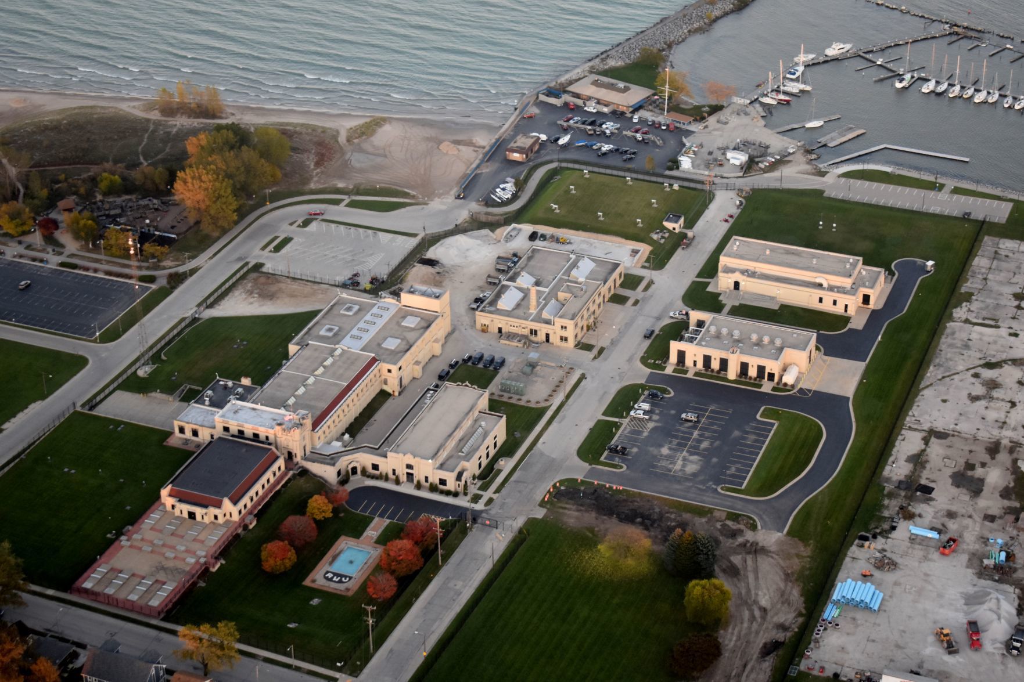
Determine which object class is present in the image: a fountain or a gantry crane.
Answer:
fountain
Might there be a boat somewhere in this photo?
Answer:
Yes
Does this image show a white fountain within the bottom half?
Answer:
No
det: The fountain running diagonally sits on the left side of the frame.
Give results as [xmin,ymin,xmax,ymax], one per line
[303,512,407,594]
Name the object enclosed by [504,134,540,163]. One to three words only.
building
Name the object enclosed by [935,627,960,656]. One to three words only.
work vehicle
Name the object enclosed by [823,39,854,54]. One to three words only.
boat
